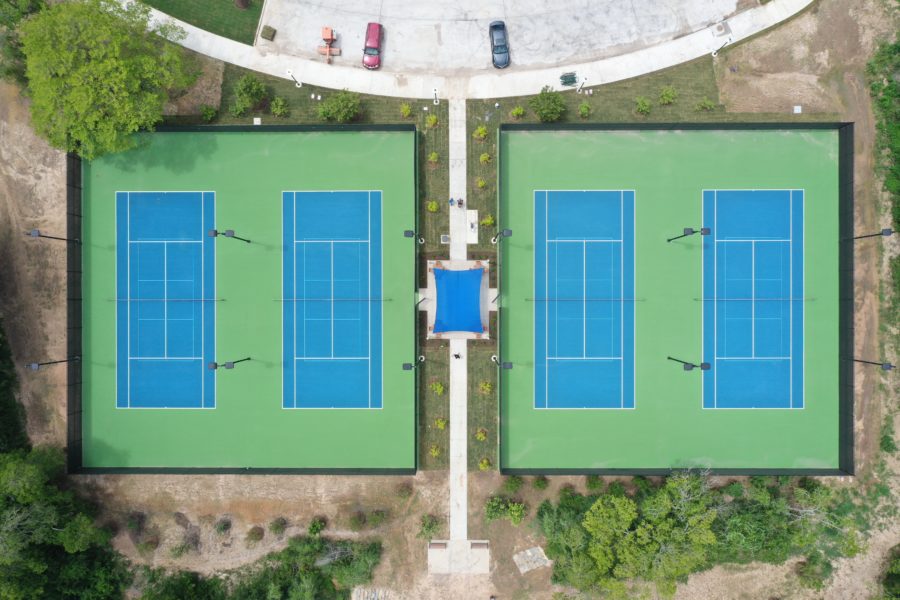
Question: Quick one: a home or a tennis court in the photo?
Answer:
tennis court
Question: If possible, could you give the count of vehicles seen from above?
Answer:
3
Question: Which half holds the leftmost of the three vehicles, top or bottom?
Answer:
top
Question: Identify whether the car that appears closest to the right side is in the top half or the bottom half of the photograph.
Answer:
top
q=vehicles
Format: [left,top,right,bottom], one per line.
[490,20,512,69]
[360,20,382,69]
[315,24,339,65]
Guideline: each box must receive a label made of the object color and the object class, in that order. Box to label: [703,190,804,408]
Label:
blue tennis court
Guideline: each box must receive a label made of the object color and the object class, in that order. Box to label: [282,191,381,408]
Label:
blue tennis court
